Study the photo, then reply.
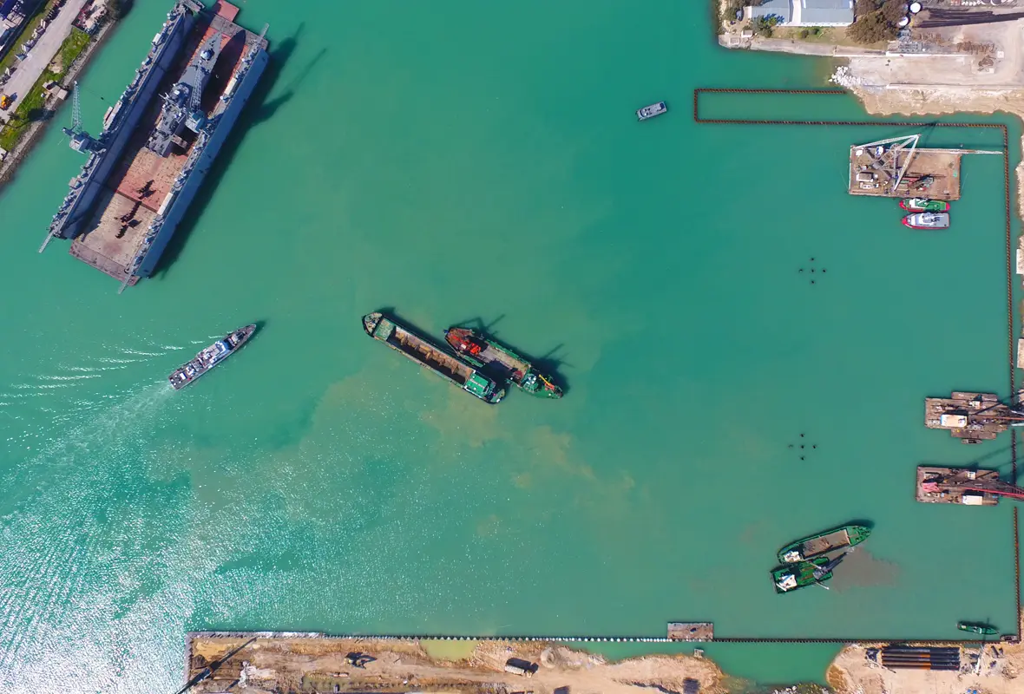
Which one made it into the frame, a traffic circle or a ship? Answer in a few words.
ship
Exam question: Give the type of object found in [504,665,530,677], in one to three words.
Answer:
vehicle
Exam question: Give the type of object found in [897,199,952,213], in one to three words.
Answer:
boat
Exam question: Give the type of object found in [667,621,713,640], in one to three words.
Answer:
pier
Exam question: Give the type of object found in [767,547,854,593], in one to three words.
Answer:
ship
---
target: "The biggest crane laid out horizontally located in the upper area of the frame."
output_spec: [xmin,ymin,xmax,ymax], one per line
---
[854,134,1003,190]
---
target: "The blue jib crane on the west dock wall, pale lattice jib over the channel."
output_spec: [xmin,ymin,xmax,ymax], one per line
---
[68,81,104,162]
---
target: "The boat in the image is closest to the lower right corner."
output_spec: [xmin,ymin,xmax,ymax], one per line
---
[956,621,999,635]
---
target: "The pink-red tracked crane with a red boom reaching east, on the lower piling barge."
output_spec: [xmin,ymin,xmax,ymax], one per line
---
[921,470,1024,501]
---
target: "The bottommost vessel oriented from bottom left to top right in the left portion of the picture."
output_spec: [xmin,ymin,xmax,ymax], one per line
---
[169,325,259,390]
